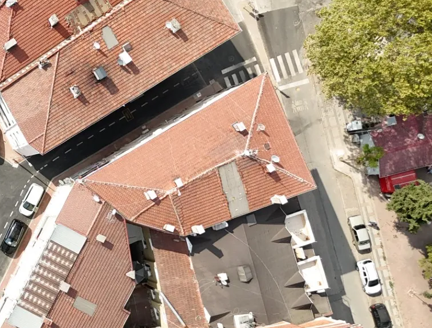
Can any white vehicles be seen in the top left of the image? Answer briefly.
No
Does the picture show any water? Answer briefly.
No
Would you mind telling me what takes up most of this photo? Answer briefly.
buildings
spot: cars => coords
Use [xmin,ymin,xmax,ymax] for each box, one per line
[19,182,44,217]
[356,259,381,295]
[369,301,392,328]
[346,214,370,252]
[1,218,26,255]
